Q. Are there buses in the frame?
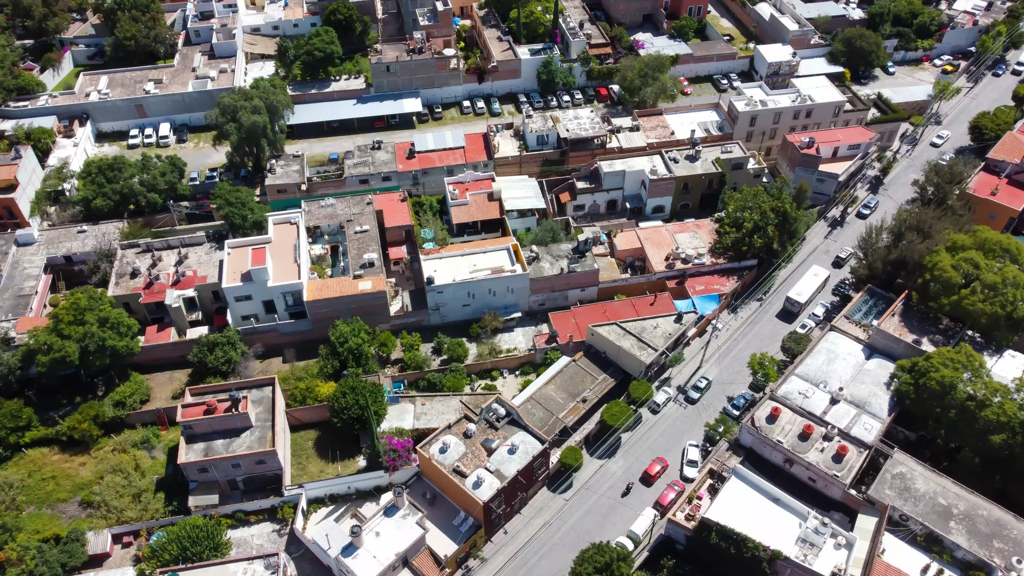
Yes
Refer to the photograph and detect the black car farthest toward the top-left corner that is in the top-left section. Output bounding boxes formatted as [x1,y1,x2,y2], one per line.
[176,125,189,142]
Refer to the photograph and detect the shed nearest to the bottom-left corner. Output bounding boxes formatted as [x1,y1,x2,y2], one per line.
[86,528,119,566]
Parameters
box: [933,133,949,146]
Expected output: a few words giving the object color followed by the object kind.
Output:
white vehicle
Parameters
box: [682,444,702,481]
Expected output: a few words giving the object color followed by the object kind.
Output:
white car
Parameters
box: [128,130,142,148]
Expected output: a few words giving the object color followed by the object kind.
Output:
white car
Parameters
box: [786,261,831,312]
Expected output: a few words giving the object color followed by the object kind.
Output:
white bus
